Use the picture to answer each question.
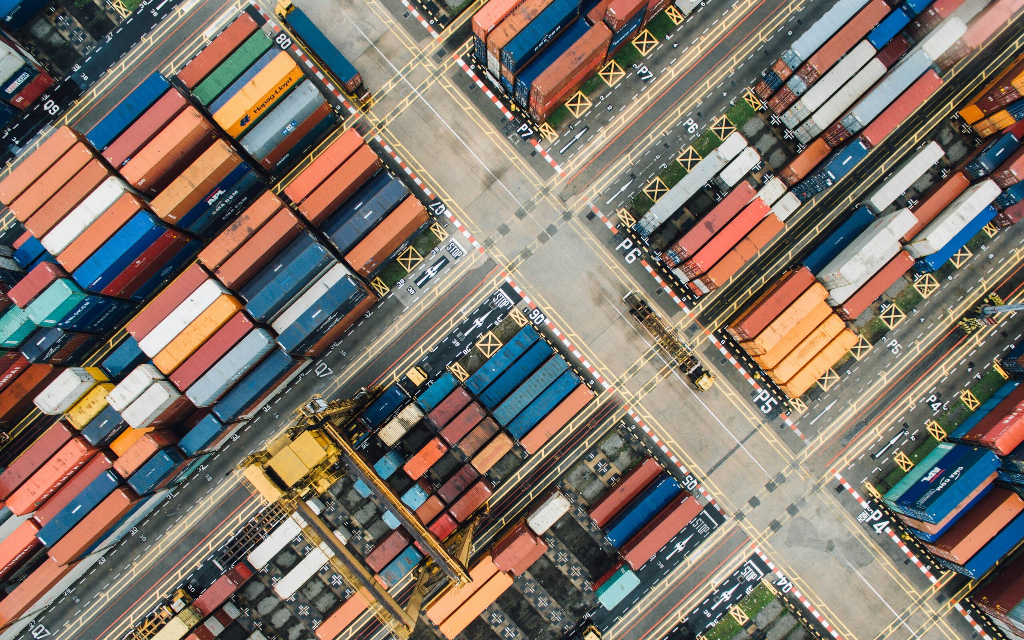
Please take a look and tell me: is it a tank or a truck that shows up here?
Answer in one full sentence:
Visible in the photo is a truck.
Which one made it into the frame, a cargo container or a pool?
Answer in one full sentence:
The image shows a cargo container.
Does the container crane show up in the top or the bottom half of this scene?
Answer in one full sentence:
The bottom half of the photo is where the container crane is.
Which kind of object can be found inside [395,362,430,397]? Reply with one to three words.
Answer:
truck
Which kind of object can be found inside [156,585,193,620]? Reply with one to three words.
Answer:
truck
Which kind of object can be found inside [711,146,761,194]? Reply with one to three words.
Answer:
shipping container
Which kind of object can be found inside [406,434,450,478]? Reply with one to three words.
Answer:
shipping container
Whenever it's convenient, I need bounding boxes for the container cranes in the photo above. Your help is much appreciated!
[241,377,500,640]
